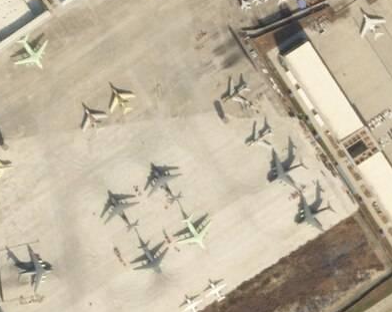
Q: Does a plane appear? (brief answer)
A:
Yes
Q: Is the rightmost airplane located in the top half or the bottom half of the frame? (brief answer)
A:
top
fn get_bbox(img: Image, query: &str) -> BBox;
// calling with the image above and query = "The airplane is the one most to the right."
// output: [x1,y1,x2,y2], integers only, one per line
[361,12,386,39]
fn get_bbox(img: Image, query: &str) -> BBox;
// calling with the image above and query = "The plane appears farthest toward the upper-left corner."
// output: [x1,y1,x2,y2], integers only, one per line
[14,36,49,69]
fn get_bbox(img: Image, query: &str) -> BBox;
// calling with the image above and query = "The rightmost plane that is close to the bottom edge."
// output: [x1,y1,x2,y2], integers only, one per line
[205,282,226,299]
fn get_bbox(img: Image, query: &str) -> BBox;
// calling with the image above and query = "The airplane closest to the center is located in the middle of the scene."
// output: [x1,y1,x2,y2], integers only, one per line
[147,168,182,201]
